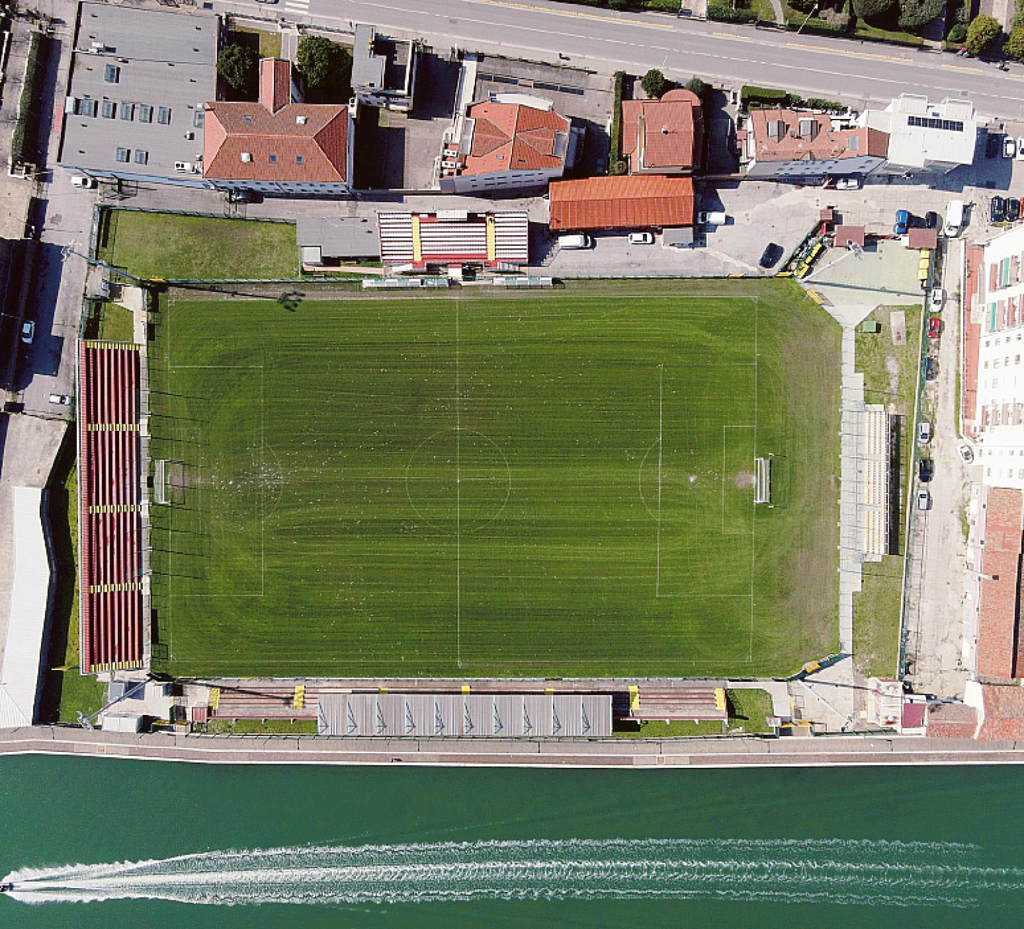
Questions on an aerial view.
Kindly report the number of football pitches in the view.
1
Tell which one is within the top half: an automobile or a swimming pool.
automobile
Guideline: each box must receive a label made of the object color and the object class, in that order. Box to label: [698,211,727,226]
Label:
white vehicle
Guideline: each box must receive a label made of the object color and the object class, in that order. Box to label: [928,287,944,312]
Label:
white car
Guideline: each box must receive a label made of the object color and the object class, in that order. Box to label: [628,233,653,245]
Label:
white vehicle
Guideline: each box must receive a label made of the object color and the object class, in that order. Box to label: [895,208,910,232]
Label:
blue car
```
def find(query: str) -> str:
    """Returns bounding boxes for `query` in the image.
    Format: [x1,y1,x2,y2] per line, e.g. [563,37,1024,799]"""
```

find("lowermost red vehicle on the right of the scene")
[927,316,942,340]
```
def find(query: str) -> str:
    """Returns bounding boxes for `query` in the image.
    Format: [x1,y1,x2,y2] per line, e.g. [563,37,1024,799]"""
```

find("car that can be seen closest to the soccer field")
[761,243,781,269]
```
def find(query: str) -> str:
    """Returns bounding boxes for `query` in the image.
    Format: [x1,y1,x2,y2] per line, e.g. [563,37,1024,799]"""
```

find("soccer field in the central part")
[149,279,840,678]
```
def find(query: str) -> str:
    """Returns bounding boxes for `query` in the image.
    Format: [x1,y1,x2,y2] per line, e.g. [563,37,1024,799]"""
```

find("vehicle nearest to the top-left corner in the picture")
[71,176,95,189]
